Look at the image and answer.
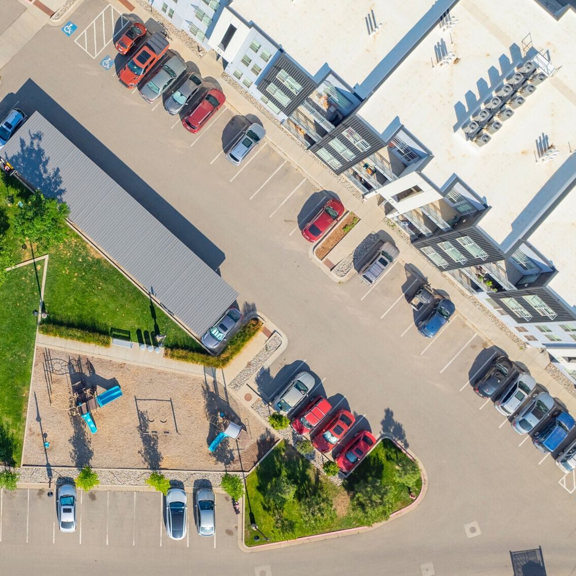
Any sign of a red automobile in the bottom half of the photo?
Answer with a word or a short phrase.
Yes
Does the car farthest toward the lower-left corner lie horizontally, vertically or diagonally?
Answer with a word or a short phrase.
vertically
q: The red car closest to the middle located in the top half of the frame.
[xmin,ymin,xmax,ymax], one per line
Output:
[299,198,345,245]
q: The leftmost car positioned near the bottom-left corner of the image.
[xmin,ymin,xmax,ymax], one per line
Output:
[56,483,78,532]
